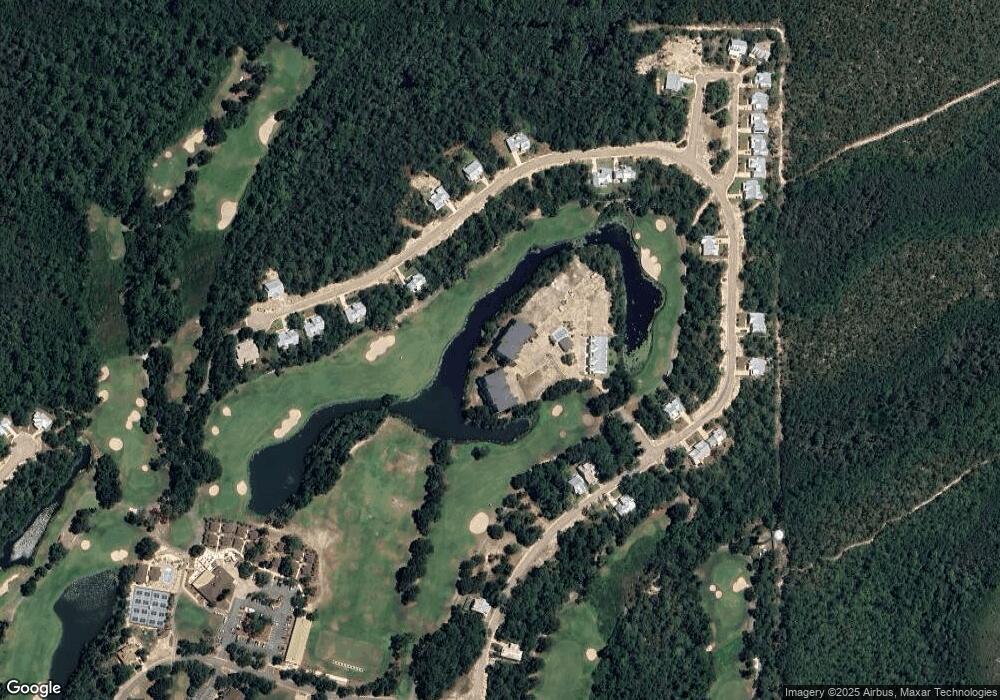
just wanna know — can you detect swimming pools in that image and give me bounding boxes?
[160,566,177,586]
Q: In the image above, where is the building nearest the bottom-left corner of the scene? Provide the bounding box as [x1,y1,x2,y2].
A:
[116,641,139,668]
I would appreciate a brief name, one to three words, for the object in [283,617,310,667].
barn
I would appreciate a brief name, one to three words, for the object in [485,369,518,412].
building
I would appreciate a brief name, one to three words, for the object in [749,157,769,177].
house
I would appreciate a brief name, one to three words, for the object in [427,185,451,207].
house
